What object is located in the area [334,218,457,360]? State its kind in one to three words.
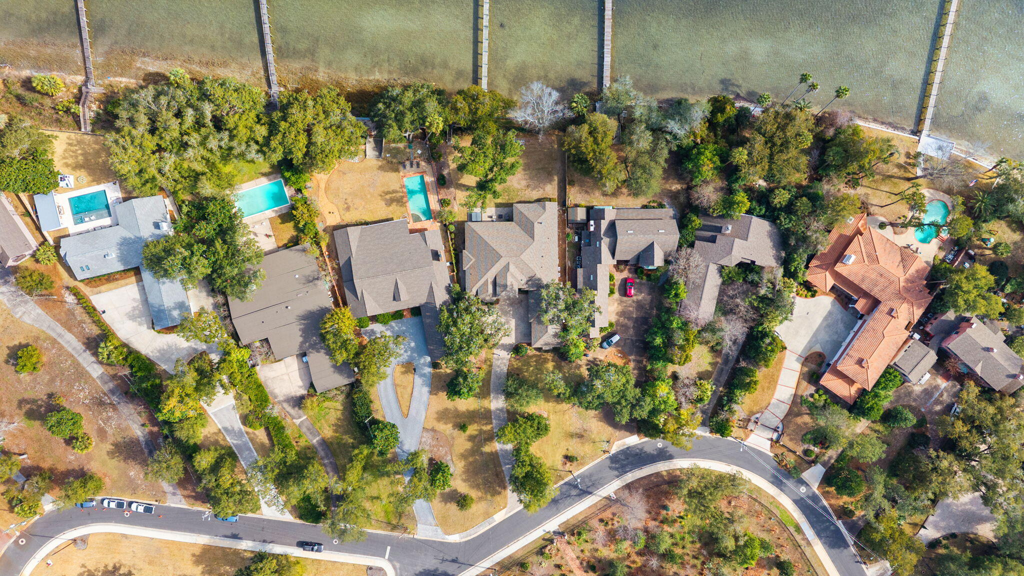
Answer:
house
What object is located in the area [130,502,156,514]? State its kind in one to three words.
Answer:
vehicle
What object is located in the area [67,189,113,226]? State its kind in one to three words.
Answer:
swimming pool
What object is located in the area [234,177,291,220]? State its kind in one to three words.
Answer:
swimming pool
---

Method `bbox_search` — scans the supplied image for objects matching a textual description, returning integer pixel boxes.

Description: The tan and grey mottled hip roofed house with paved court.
[463,202,566,350]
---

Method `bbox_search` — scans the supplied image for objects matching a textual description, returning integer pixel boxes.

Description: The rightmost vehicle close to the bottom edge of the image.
[301,541,324,554]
